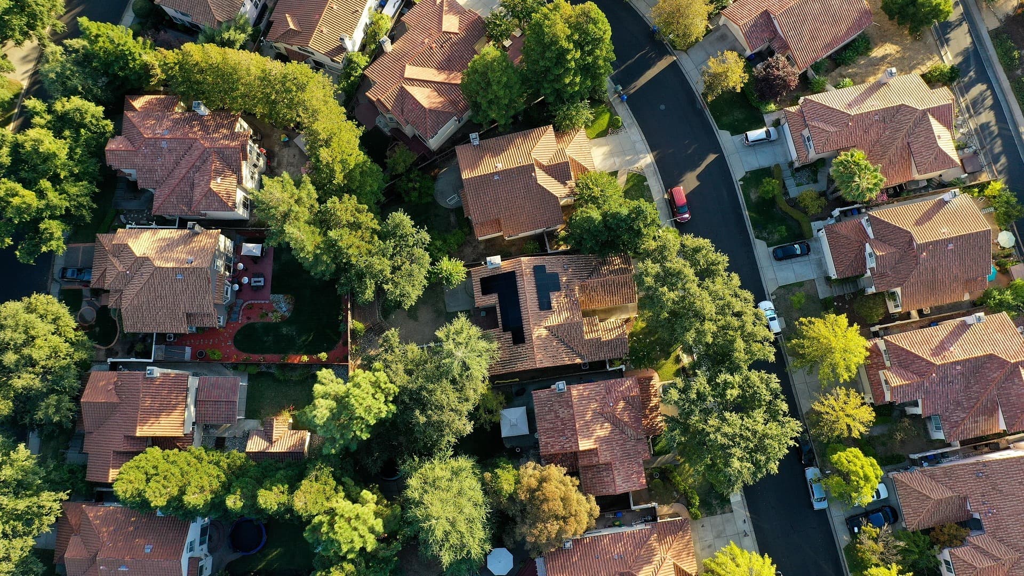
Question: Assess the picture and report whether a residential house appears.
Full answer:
Yes, a residential house can be made out from above.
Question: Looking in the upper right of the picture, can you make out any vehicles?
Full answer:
Yes, a vehicle can be seen in the upper right of the picture.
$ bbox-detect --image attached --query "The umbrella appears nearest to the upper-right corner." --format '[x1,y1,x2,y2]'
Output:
[993,230,1015,248]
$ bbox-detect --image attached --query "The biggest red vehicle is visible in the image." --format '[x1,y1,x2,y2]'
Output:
[668,185,691,224]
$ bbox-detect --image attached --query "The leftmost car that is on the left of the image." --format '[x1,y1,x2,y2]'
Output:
[57,266,91,283]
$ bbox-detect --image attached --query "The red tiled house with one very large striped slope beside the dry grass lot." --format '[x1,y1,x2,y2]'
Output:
[721,0,879,78]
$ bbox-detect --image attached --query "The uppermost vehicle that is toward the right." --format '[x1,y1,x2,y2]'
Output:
[742,126,780,146]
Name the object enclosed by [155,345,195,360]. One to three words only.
shed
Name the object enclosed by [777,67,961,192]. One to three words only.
house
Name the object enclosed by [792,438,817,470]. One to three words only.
car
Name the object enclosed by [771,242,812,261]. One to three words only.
car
